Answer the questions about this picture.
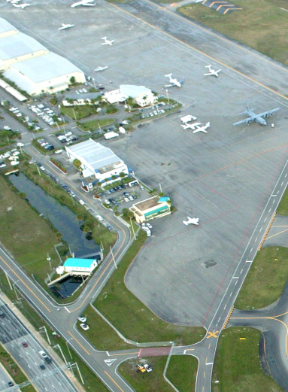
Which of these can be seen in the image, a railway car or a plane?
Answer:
plane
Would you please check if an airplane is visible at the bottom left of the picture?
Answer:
No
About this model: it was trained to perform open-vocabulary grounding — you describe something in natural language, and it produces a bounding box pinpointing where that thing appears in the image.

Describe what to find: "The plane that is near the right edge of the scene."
[234,98,283,124]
